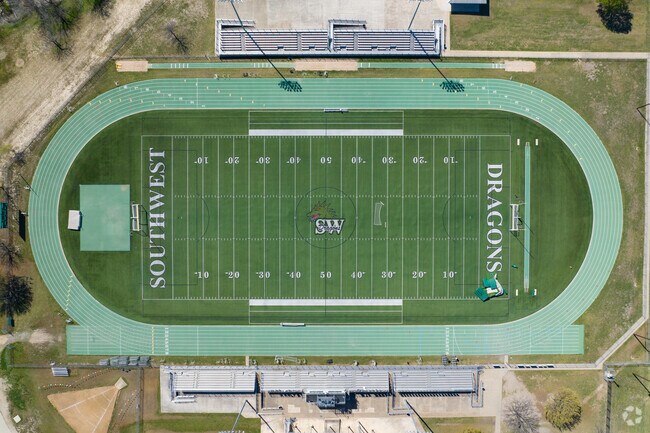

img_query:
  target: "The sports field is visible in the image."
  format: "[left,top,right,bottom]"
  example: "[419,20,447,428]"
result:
[58,109,593,325]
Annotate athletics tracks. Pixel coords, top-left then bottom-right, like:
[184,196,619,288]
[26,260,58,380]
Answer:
[27,78,624,356]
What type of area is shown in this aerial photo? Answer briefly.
sports ground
